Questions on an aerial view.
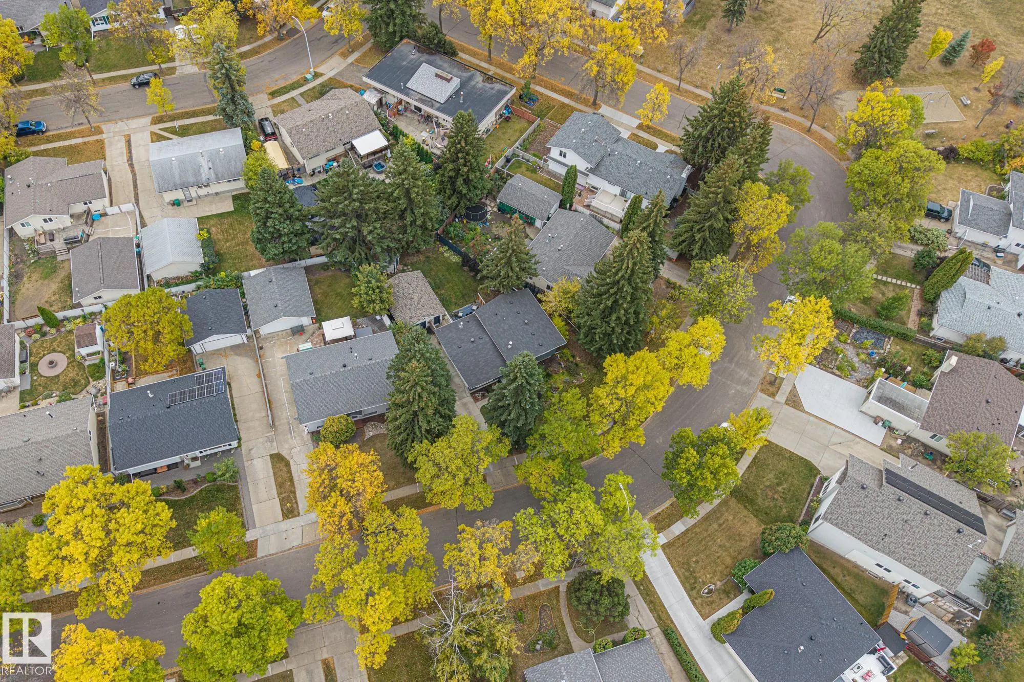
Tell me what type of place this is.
residential area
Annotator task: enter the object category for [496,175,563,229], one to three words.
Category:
shed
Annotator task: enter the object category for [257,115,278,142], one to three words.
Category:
truck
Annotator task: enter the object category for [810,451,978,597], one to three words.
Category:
house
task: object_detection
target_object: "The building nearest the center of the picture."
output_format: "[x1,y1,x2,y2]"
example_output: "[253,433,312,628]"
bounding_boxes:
[434,288,567,397]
